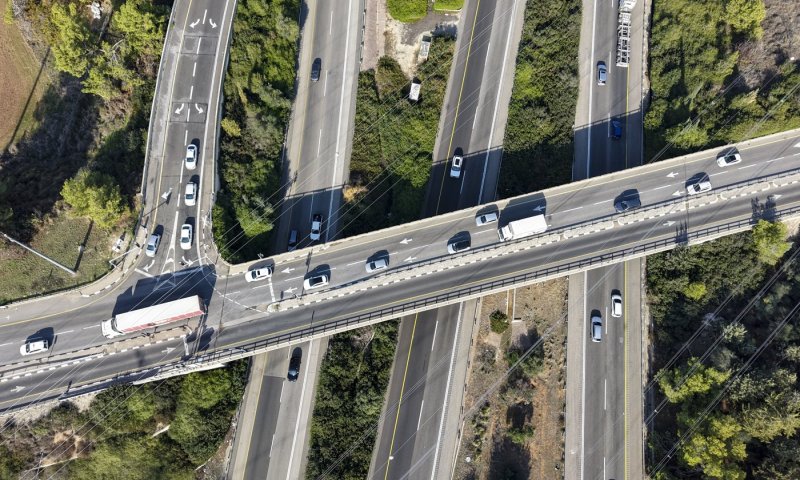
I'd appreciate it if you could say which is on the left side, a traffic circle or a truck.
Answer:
truck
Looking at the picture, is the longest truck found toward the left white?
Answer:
Yes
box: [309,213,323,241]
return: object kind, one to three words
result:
vehicle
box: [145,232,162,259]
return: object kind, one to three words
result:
car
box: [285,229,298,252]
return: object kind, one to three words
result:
vehicle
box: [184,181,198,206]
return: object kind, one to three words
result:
car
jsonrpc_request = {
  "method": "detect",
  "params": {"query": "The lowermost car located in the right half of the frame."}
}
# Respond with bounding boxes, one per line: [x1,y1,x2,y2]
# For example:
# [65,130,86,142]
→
[591,317,603,343]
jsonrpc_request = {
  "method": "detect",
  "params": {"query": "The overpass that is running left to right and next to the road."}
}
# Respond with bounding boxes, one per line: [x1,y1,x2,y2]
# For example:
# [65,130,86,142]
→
[209,127,800,363]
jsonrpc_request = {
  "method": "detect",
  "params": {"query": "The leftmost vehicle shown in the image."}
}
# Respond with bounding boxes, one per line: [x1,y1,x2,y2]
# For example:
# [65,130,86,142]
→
[20,341,49,356]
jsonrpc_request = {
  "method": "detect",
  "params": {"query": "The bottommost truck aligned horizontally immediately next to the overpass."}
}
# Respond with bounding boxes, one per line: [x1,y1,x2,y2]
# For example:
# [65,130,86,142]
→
[101,299,208,339]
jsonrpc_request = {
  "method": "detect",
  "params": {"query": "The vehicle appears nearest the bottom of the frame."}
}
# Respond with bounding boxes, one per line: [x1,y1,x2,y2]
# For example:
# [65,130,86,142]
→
[288,356,301,382]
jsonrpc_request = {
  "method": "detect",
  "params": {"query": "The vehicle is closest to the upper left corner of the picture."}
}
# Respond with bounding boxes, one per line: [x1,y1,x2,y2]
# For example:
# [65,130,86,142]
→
[184,144,198,170]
